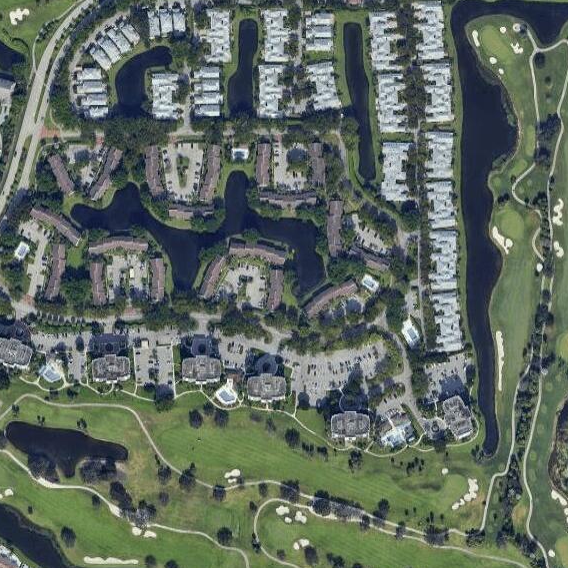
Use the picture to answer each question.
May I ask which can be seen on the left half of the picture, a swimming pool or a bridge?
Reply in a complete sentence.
You can see a swimming pool on the left half of the picture.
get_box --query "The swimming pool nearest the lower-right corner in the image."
[378,422,414,448]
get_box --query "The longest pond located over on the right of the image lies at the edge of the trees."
[345,23,375,180]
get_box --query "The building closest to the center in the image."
[266,270,282,312]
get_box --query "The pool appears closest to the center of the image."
[362,274,381,291]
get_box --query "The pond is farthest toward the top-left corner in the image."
[115,47,172,114]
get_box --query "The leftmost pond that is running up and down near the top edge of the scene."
[227,20,258,116]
